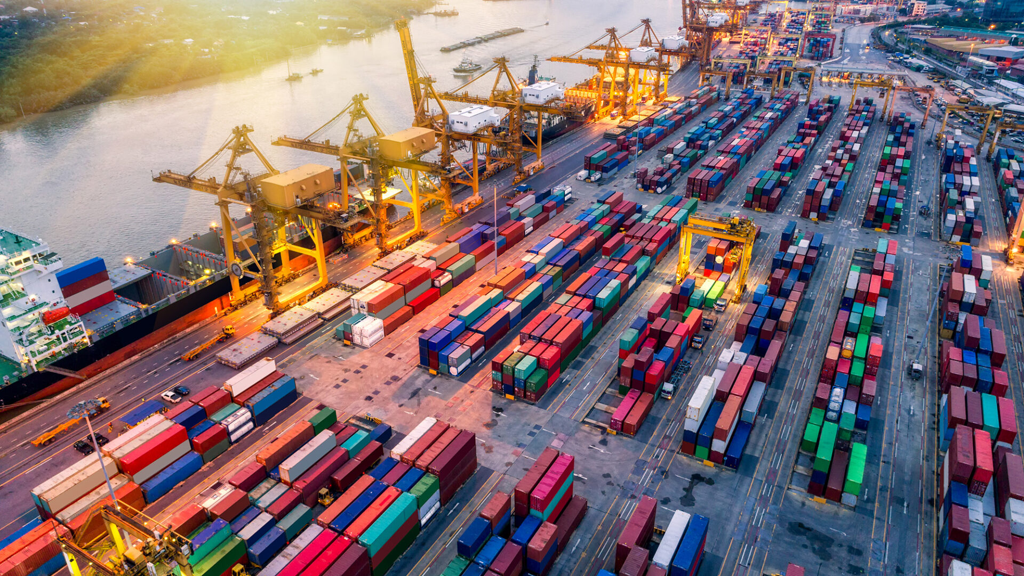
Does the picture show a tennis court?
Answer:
No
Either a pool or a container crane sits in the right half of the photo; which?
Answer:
container crane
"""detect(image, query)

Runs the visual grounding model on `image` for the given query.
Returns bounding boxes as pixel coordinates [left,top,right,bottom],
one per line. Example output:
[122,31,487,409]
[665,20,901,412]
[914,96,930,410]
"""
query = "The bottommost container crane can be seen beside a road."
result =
[33,489,204,576]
